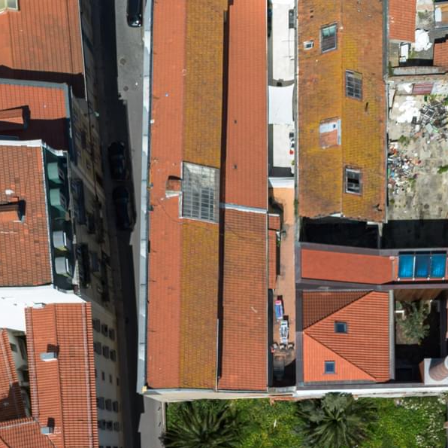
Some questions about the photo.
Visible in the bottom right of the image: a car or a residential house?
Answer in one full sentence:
What appears in the bottom right of the image is a residential house.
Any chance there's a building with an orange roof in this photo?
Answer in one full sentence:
Yes, you can see a building with an orange roof in this photo.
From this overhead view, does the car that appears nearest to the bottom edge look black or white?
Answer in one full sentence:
In this view, the car that appears nearest to the bottom edge is black.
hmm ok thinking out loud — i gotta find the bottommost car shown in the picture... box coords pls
[109,185,134,233]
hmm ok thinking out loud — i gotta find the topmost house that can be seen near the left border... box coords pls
[0,0,112,139]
